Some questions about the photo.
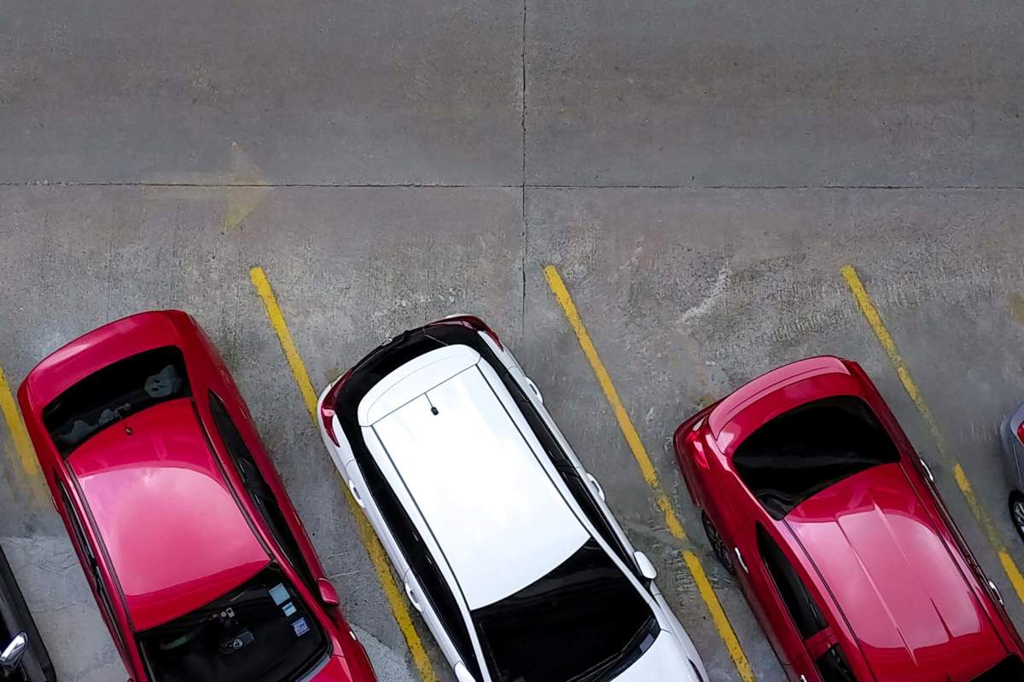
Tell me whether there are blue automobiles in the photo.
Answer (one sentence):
No, the frame has no blue automobile in it.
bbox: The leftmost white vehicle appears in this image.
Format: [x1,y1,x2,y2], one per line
[321,314,712,682]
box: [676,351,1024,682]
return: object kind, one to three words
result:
car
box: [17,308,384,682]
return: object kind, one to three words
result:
car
